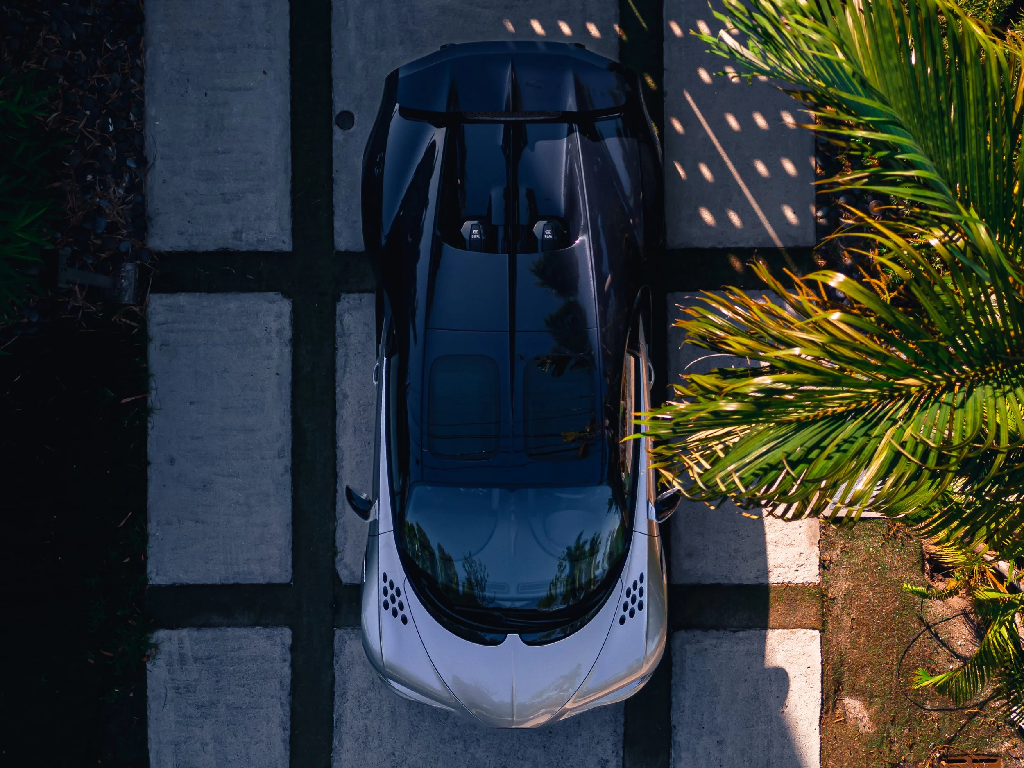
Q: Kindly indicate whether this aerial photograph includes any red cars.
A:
No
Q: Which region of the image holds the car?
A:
center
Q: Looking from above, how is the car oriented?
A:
vertically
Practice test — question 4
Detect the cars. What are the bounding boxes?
[345,37,681,729]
